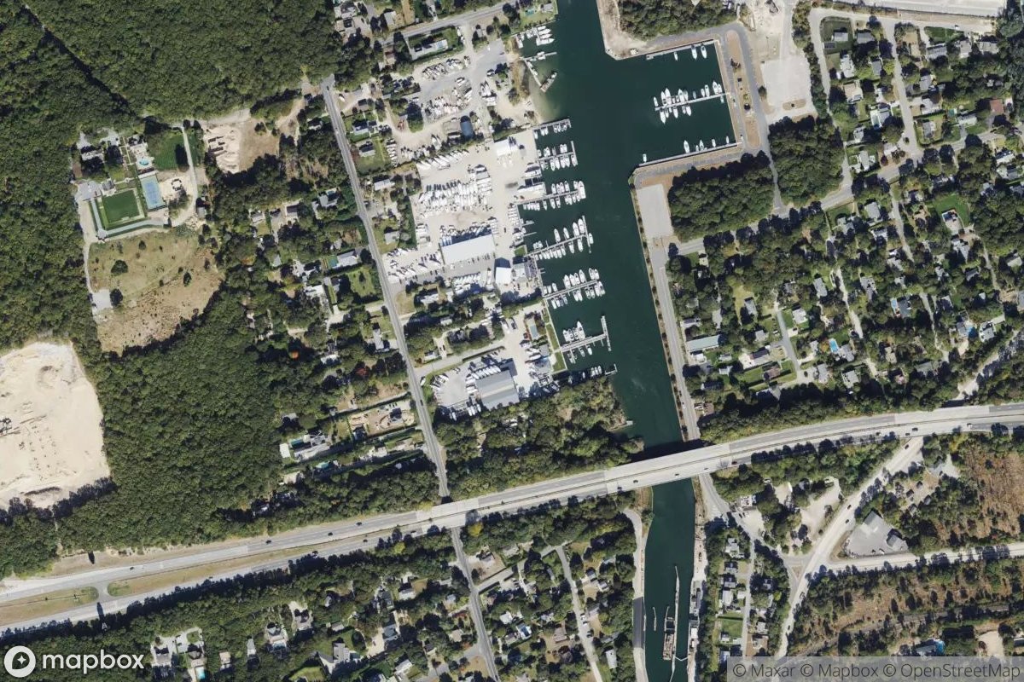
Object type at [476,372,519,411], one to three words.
shed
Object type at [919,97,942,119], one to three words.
house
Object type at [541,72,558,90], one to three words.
ship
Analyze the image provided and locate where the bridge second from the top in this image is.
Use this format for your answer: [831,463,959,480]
[605,441,729,493]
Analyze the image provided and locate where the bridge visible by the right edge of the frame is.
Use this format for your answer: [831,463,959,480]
[896,404,990,437]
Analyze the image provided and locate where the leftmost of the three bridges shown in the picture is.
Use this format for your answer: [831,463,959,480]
[417,501,466,536]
